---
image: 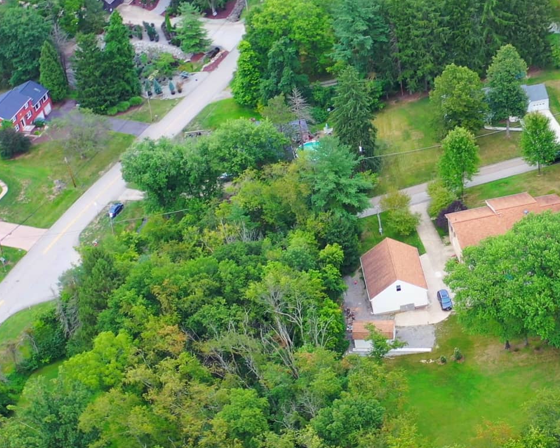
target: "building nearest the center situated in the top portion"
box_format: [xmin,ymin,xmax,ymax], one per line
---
[282,118,313,143]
